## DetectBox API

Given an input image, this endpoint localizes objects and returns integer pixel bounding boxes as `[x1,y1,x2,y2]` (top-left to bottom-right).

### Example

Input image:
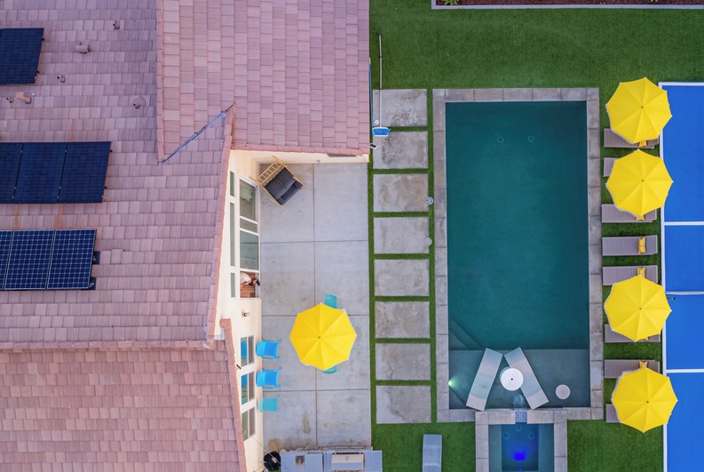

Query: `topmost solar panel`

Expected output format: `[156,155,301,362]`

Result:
[0,28,43,83]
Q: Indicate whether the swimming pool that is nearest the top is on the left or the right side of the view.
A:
right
